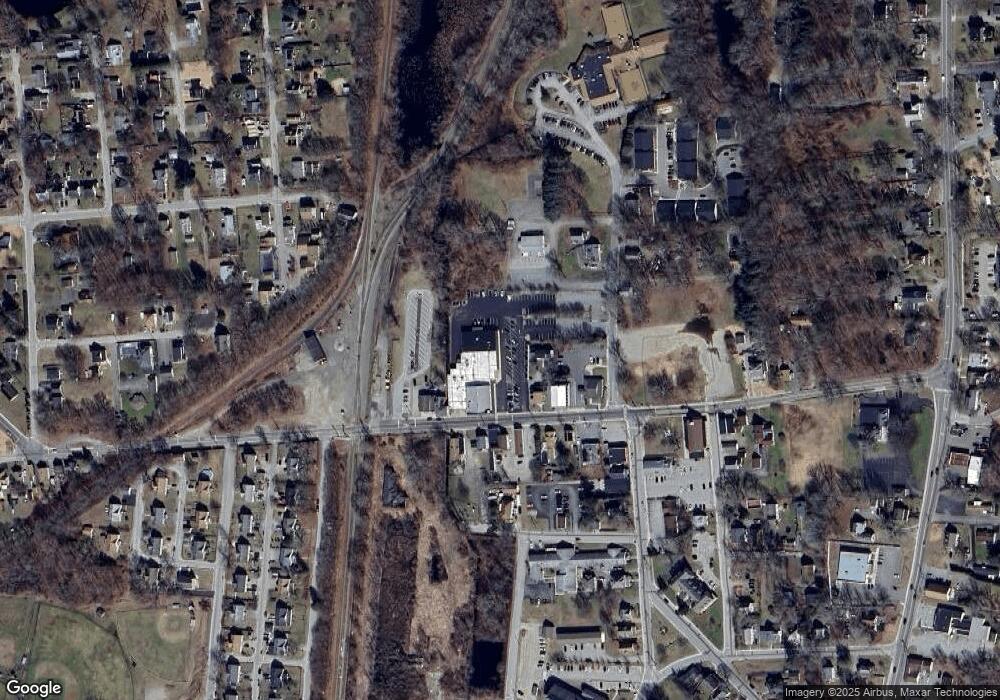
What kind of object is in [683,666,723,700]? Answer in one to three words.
building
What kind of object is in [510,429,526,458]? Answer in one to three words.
house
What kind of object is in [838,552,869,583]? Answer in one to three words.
building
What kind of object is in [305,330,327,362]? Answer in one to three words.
shed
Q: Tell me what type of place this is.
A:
residential area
